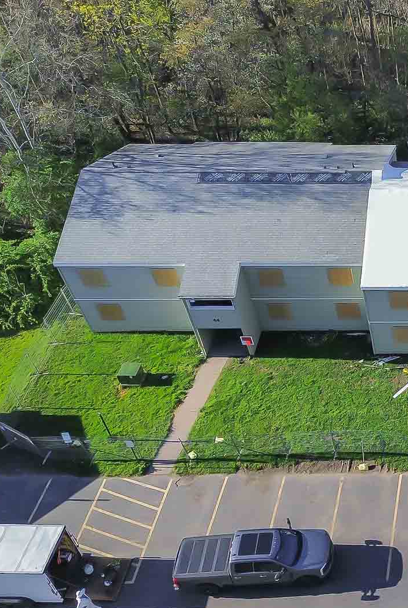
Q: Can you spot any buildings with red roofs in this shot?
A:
No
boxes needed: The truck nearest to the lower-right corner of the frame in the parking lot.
[172,524,342,590]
